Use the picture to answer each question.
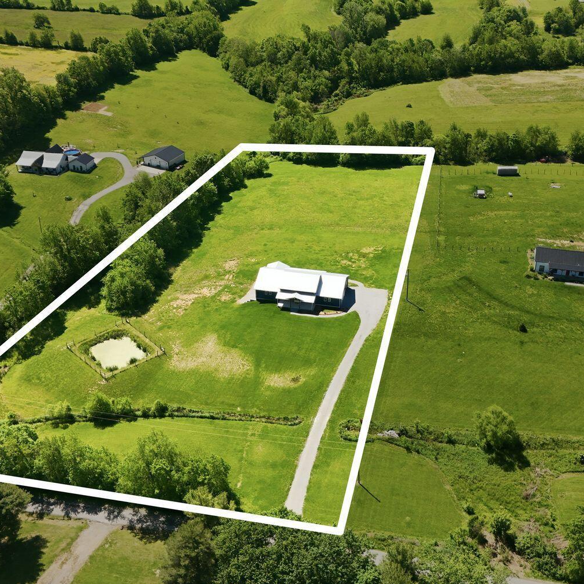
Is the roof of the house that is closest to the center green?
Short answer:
No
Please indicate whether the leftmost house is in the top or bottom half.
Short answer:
top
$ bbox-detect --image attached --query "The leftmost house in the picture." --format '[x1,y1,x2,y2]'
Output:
[16,144,73,175]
